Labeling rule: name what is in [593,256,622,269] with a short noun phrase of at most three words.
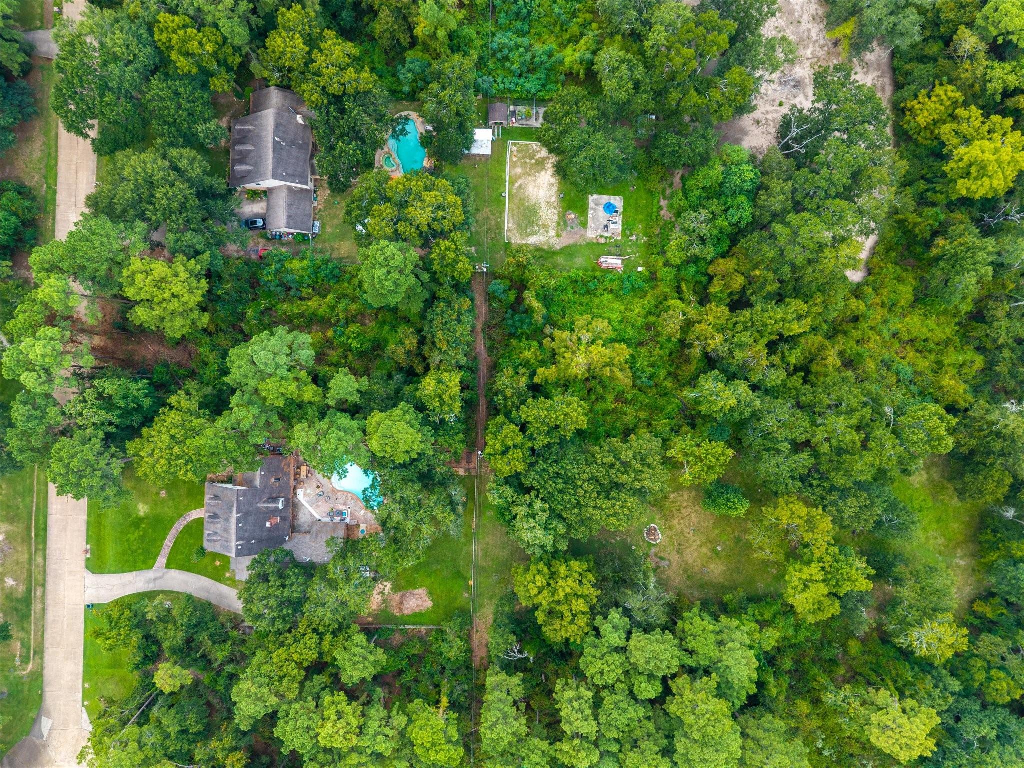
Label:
boat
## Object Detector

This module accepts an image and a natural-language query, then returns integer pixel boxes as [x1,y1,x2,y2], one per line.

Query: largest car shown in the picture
[241,217,267,230]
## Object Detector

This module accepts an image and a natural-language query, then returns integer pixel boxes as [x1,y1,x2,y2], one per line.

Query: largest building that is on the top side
[230,87,323,234]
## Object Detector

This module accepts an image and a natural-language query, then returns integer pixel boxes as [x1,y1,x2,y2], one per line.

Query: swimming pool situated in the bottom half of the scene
[329,462,386,513]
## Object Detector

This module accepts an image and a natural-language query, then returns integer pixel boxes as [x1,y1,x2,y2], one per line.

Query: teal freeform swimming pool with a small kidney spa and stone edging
[380,115,428,177]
